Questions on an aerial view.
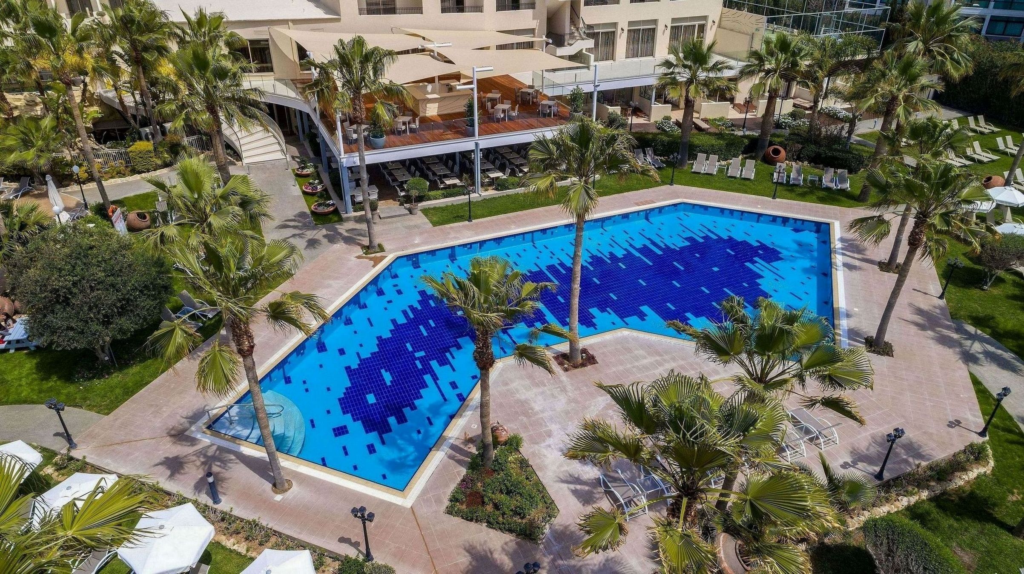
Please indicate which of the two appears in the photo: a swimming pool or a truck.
swimming pool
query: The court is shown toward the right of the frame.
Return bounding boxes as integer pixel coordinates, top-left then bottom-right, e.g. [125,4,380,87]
[719,0,890,57]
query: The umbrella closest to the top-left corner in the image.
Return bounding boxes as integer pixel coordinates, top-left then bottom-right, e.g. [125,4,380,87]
[46,175,67,216]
